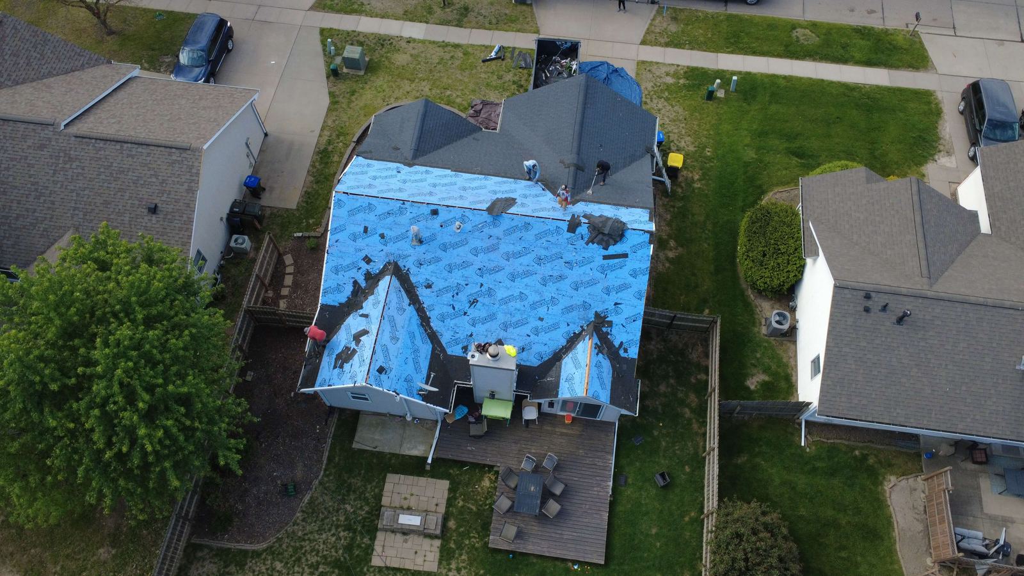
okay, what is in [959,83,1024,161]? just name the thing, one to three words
car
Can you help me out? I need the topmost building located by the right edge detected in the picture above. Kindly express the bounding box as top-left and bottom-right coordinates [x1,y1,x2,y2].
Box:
[793,140,1024,452]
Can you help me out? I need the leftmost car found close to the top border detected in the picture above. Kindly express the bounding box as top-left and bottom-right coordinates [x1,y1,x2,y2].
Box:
[172,13,235,84]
